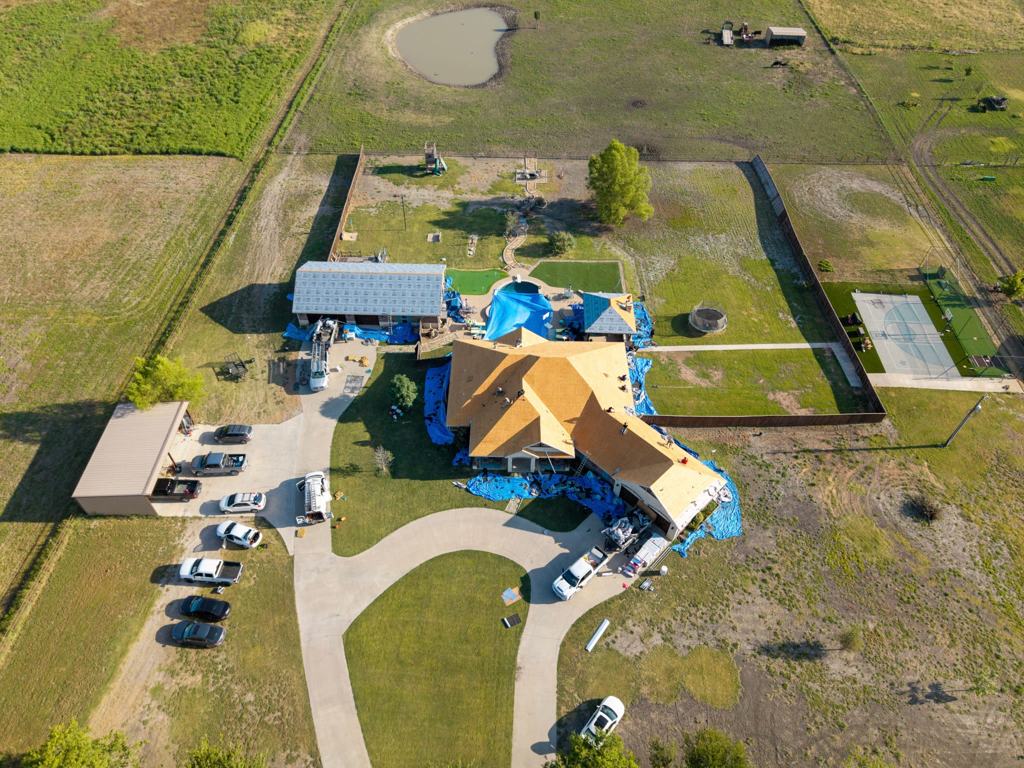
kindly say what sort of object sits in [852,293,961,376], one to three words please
sports court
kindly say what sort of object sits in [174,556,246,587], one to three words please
truck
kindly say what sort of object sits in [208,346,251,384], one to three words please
trailer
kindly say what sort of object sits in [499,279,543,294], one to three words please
swimming pool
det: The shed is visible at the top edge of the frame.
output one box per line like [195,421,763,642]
[764,27,809,46]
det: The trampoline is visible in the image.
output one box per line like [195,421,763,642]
[690,298,730,338]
